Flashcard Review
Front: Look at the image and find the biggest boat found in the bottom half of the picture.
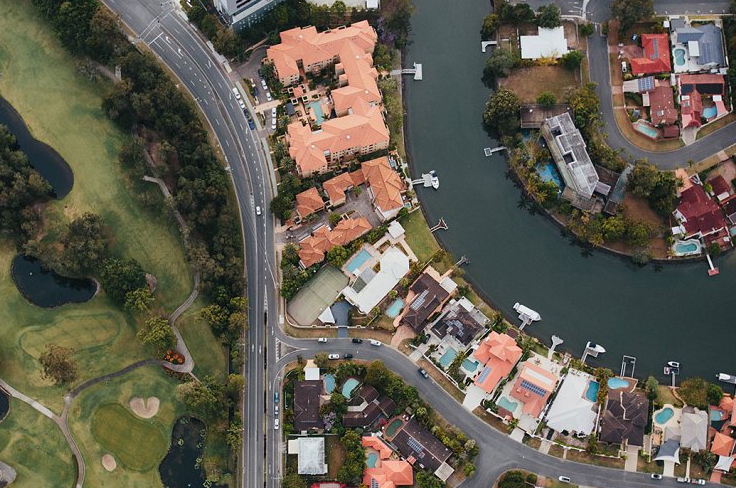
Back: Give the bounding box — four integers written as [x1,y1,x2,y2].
[513,302,541,319]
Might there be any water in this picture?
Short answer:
Yes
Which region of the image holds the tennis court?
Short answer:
center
